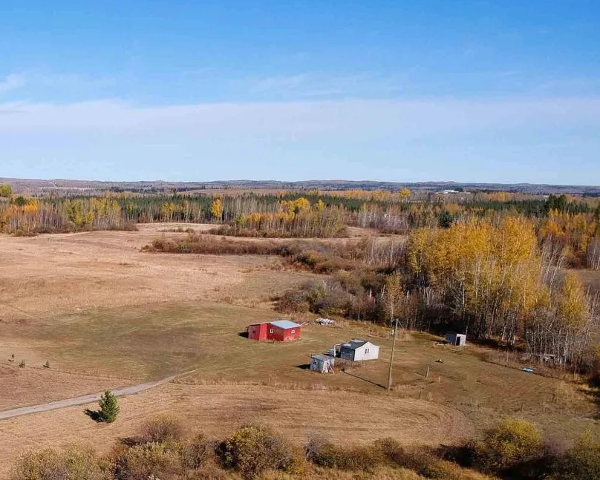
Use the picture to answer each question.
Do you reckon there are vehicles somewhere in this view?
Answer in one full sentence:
No, this view has no vehicle in it.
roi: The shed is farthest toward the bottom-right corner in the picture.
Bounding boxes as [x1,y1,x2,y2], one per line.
[443,332,469,346]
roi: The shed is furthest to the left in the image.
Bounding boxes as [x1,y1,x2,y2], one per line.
[247,318,306,341]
